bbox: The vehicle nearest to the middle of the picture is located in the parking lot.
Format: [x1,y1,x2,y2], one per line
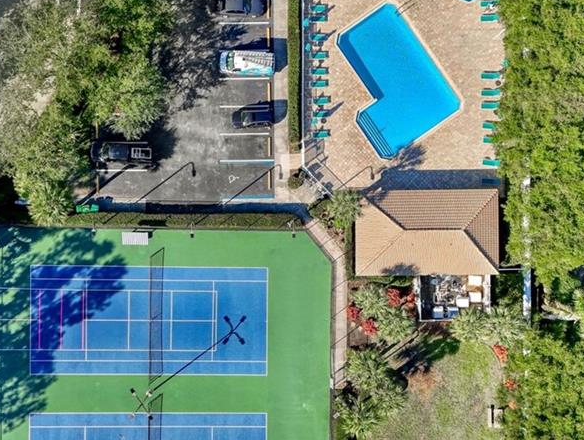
[231,103,275,126]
